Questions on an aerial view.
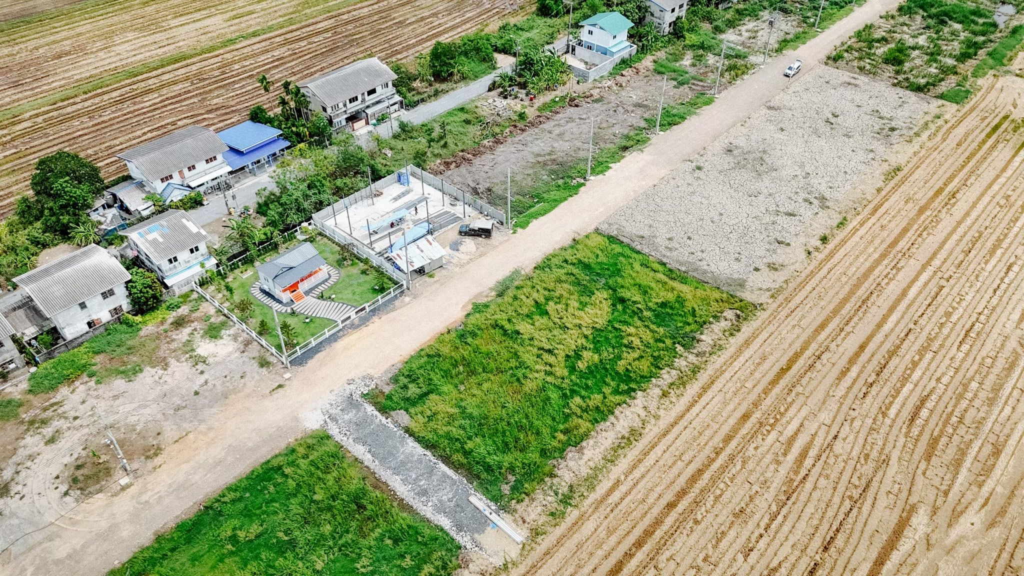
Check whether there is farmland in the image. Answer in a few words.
Yes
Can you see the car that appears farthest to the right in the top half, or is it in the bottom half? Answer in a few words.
top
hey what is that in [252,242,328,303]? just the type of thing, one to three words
house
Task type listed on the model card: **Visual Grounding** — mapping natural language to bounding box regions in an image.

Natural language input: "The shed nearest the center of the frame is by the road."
[389,234,449,282]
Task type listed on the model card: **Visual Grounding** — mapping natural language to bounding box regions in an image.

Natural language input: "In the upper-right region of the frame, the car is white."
[786,58,806,78]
